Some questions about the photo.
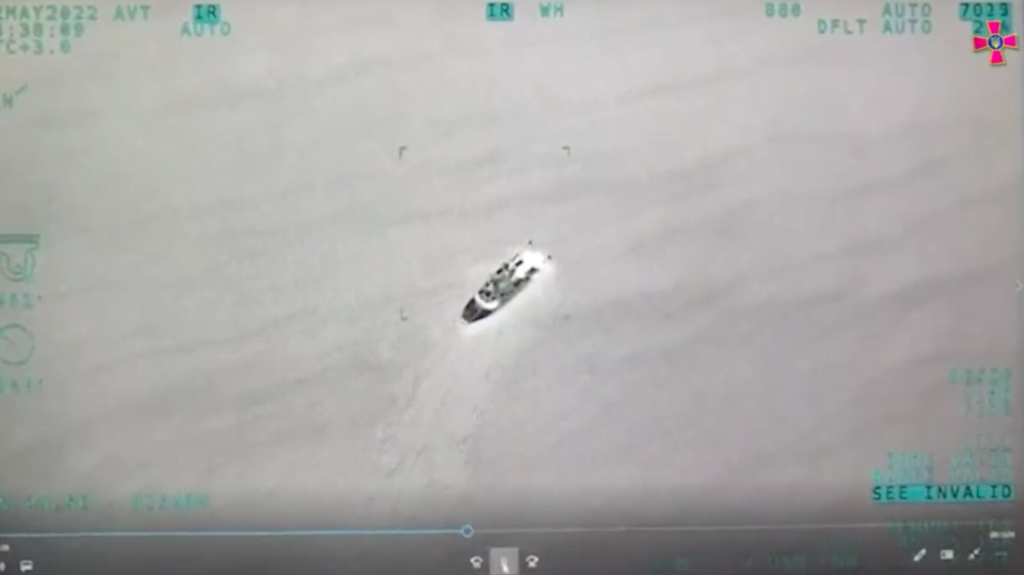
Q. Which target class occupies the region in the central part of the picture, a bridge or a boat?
boat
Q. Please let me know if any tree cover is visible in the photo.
No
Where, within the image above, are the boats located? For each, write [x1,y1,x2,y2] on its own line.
[461,243,550,323]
